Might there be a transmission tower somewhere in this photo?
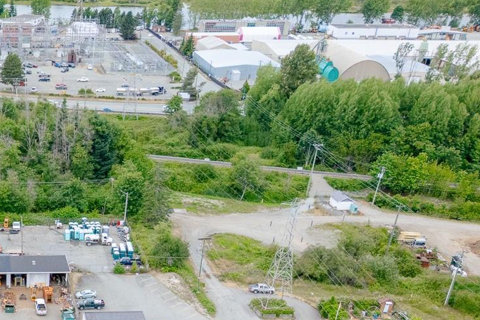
Yes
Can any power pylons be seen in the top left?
Yes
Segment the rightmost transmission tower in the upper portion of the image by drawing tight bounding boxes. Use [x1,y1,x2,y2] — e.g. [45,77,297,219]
[114,43,148,118]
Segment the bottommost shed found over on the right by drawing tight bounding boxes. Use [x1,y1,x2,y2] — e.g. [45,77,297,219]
[376,292,400,312]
